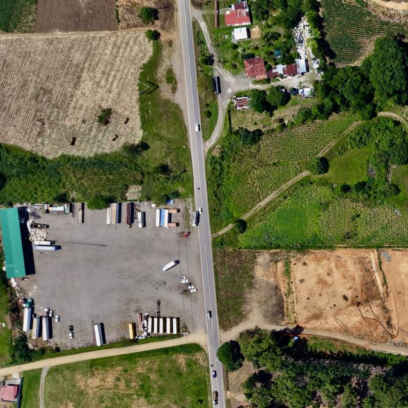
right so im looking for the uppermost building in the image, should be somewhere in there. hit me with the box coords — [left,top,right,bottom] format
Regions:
[225,1,252,26]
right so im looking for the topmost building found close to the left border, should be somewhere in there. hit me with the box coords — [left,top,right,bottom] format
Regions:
[0,207,30,279]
